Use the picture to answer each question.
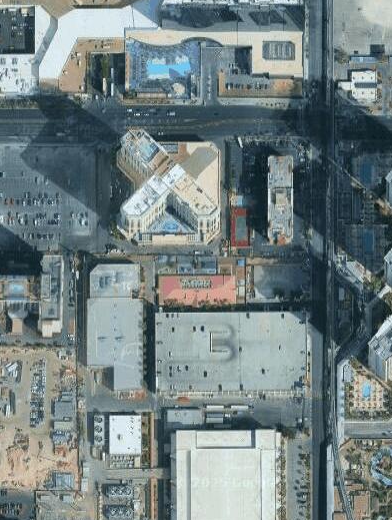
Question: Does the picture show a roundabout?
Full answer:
No, there appears to be no roundabout in this shot.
